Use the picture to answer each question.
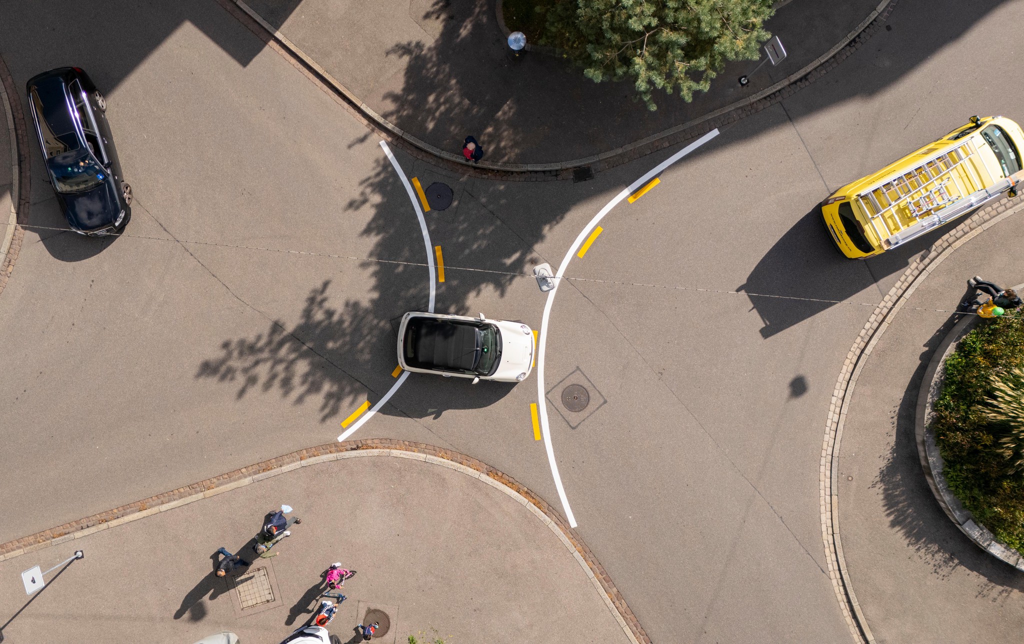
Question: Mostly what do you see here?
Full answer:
What you mostly see from above here is paved ground.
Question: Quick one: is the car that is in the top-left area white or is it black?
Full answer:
In this view, the car that is in the top-left area is black.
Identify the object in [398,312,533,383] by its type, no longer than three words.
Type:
car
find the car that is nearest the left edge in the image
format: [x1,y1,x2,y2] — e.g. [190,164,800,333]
[24,65,134,237]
